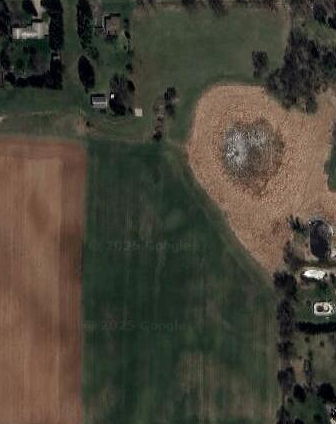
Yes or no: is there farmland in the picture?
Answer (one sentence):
Yes, there's farmland in this view.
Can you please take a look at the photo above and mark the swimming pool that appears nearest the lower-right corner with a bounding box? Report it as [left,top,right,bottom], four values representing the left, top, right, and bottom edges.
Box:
[313,302,331,316]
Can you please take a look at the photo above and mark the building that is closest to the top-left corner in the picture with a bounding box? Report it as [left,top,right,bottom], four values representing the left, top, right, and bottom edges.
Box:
[12,19,46,37]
